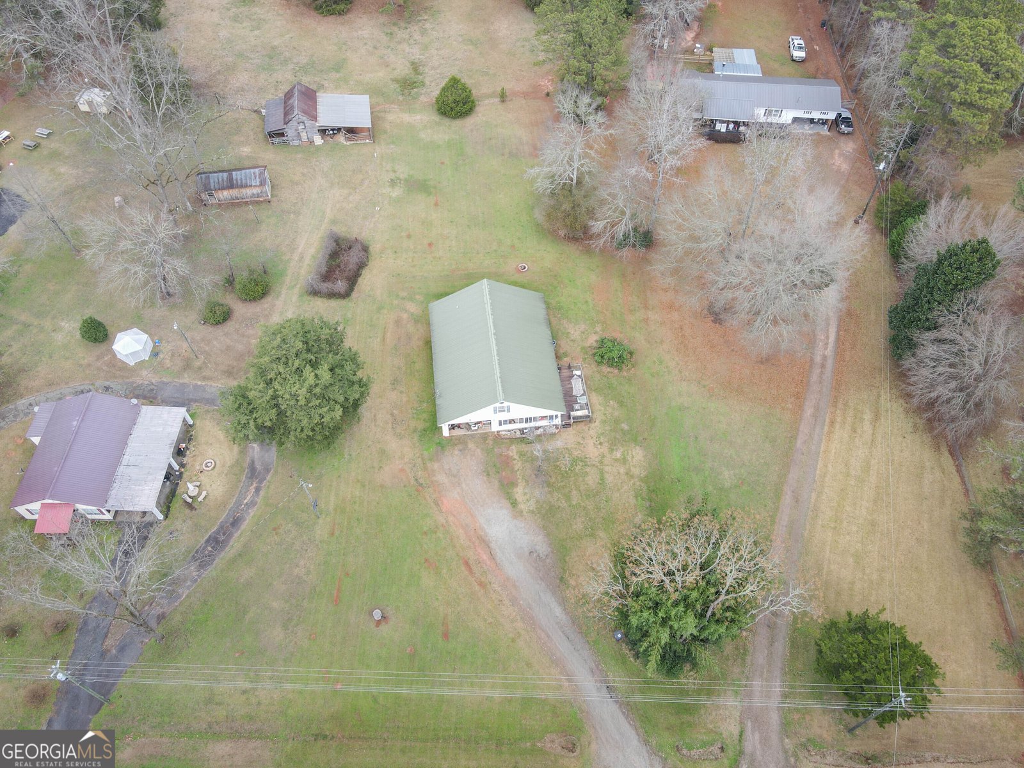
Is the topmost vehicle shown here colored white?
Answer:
Yes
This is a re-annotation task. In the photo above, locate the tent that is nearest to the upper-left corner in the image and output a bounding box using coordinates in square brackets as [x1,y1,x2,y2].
[110,328,156,368]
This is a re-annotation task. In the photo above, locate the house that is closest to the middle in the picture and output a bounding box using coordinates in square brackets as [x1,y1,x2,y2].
[425,282,565,438]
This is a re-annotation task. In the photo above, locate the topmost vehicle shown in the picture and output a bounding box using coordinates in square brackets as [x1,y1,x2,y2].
[790,32,810,60]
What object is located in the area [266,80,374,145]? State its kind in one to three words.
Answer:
barn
